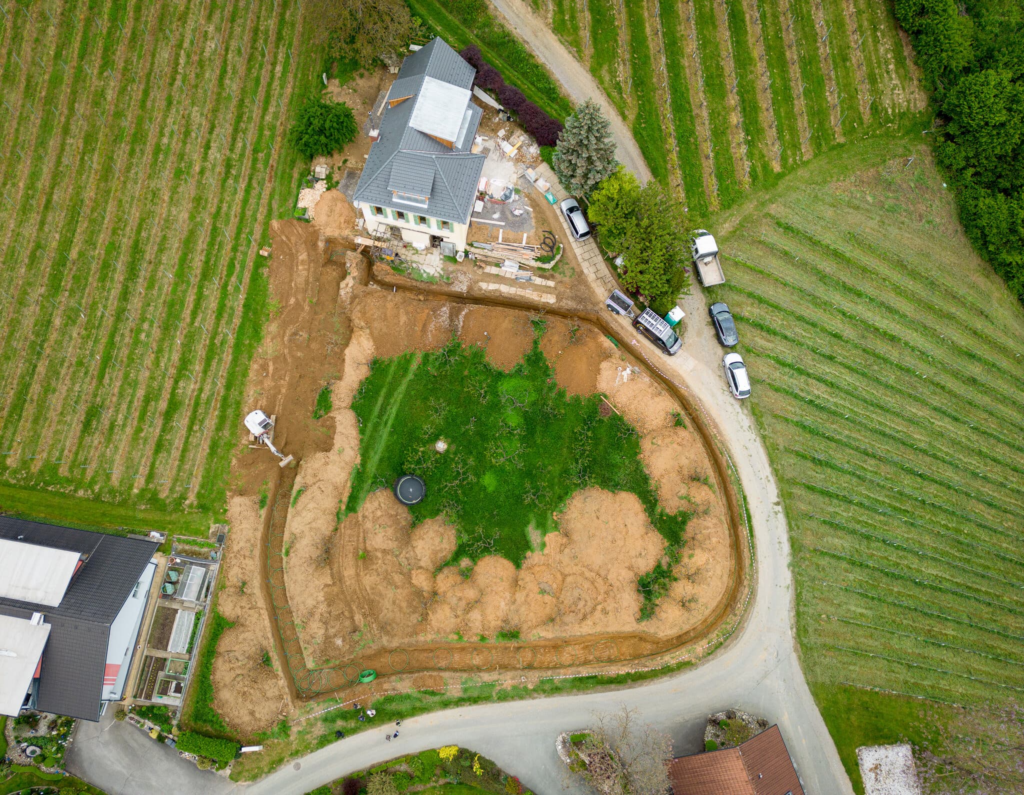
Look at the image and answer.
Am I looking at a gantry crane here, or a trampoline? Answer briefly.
trampoline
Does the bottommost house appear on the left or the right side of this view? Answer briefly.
right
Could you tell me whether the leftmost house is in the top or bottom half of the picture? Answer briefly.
bottom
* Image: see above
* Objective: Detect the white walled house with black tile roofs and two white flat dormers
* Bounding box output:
[0,513,163,722]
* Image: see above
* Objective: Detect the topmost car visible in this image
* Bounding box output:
[559,197,592,244]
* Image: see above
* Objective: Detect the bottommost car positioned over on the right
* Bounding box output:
[723,353,750,400]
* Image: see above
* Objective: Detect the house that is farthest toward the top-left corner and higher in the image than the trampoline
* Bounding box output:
[349,34,486,254]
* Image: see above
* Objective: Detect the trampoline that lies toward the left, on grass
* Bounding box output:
[393,473,426,505]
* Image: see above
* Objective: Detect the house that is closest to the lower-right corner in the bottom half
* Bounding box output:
[673,720,805,795]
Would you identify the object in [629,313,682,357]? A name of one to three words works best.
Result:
van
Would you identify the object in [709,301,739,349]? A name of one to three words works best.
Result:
car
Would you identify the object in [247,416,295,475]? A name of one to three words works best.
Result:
work vehicle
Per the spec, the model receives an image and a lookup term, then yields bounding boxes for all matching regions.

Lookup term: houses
[349,34,486,254]
[673,720,805,795]
[0,513,163,722]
